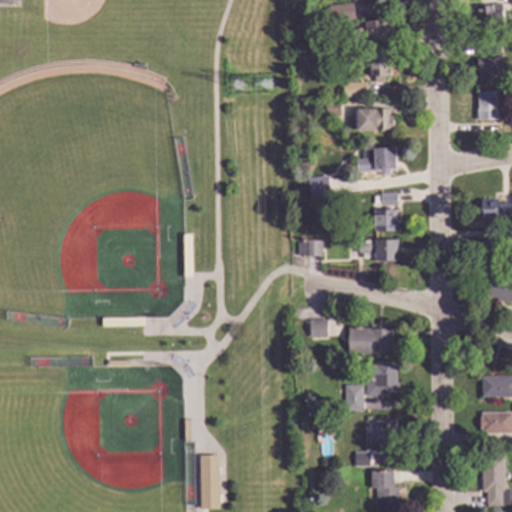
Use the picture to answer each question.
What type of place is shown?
sports ground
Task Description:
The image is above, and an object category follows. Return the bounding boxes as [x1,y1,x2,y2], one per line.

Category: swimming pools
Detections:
[316,432,334,458]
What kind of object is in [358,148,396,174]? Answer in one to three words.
house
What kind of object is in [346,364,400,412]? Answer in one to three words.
house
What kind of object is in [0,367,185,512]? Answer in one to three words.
baseball field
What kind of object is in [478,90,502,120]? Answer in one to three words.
building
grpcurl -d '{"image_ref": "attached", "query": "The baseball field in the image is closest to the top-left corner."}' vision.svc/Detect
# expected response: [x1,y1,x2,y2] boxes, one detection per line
[44,0,106,60]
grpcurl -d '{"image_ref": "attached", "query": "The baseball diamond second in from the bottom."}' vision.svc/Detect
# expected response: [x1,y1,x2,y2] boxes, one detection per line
[0,59,184,318]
